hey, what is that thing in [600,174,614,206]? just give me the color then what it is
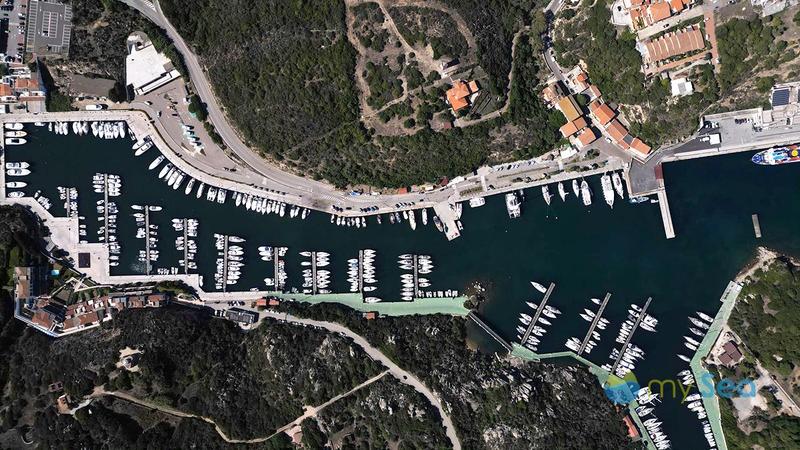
white boat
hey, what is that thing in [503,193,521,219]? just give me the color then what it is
white boat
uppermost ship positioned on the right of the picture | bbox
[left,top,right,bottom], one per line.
[753,145,800,166]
